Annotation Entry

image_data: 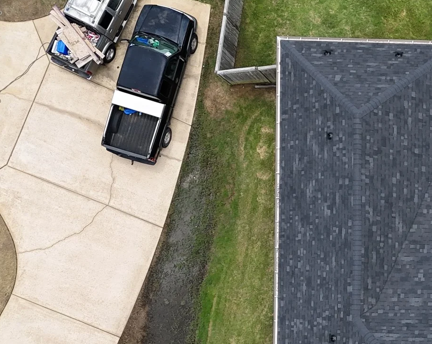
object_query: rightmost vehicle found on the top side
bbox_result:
[98,3,202,167]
